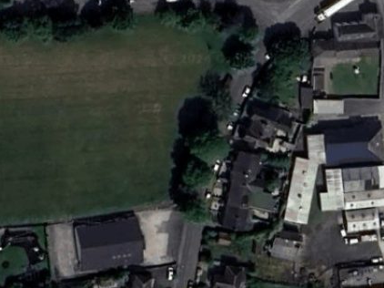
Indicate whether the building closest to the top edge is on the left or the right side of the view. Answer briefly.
right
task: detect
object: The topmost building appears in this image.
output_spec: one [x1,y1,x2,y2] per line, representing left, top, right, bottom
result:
[310,15,383,58]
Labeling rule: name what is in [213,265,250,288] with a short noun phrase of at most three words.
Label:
house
